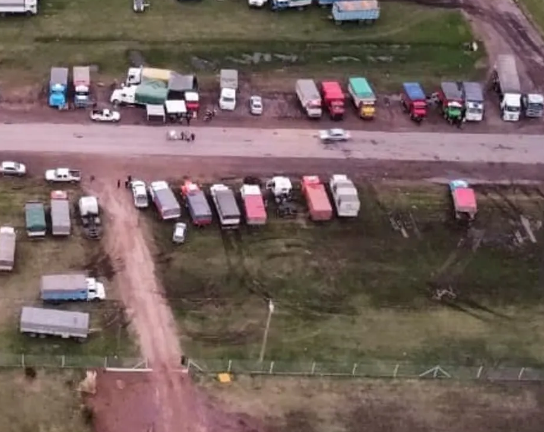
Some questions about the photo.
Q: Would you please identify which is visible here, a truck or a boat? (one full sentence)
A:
There is a truck in the scene.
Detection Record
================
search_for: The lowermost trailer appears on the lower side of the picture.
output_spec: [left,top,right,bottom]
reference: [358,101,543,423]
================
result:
[21,309,101,342]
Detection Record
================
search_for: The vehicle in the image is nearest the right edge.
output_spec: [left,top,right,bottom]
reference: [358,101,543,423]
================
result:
[522,96,544,118]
